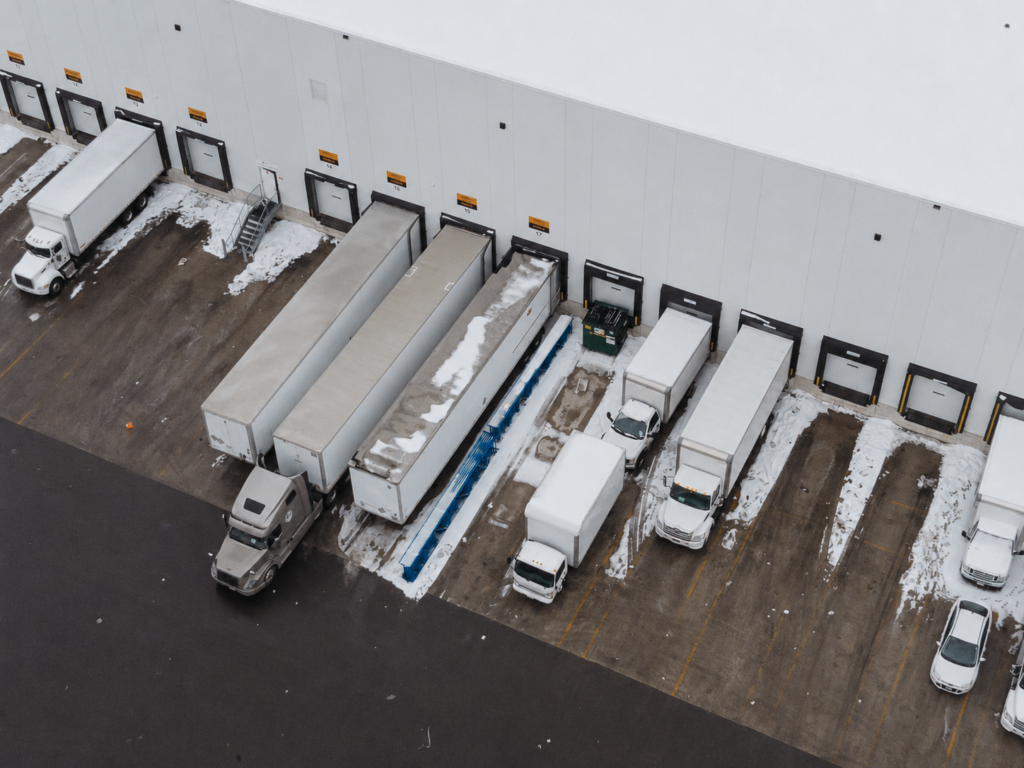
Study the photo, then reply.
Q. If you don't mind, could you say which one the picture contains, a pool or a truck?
truck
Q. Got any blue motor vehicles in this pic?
No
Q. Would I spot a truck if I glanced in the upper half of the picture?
Yes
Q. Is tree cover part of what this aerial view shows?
No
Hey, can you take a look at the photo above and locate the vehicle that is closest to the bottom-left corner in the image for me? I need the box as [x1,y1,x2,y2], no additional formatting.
[215,452,351,598]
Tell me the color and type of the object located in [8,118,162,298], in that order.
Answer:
white truck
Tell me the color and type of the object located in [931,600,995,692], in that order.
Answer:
white car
